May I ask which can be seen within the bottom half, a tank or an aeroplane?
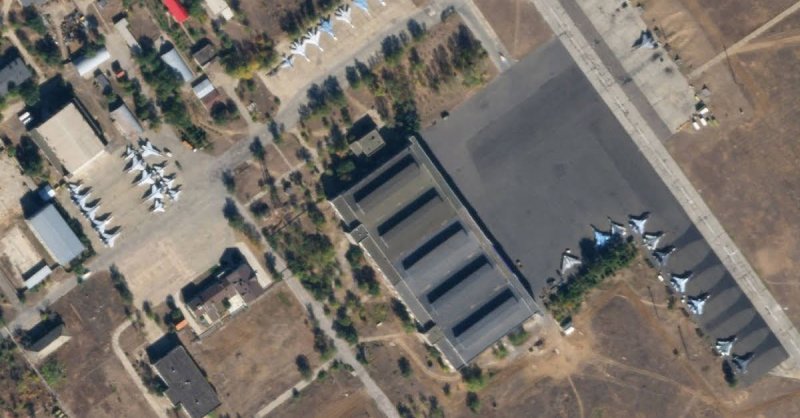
aeroplane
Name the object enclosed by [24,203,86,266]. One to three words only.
hangar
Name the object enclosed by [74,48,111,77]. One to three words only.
shed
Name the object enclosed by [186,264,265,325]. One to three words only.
building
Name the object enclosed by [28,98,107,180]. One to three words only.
hangar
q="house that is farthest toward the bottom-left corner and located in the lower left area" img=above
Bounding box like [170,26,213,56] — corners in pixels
[27,324,63,354]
